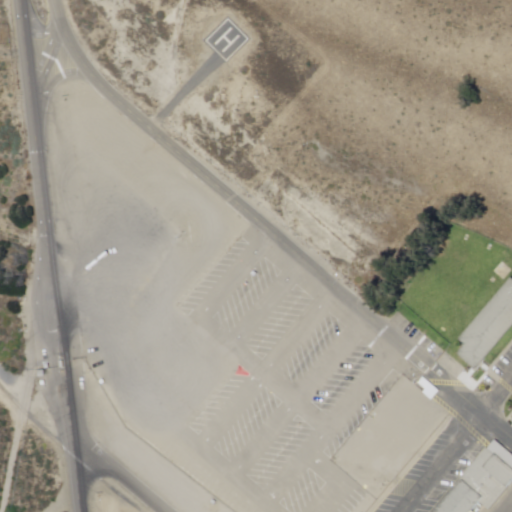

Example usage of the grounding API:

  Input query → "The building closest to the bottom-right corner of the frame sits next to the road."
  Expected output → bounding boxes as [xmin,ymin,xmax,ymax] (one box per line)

[434,440,512,512]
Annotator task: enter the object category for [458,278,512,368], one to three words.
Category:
building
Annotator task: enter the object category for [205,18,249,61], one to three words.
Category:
helipad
